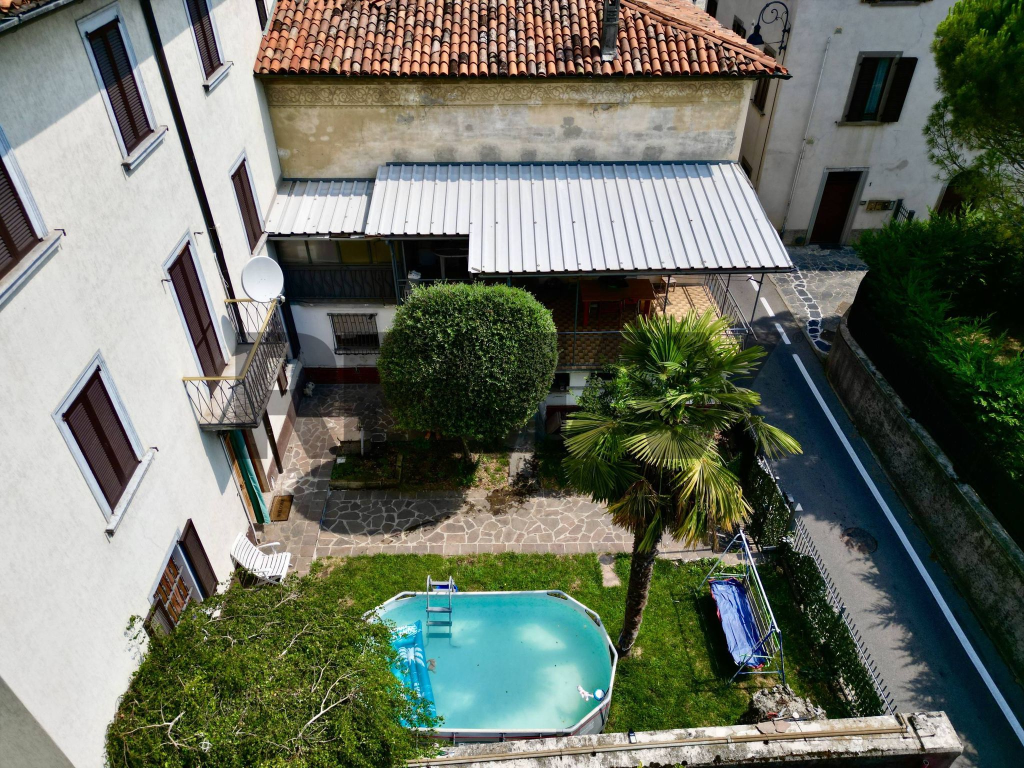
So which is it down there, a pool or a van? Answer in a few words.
pool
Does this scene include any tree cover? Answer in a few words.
Yes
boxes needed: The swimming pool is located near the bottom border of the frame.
[360,590,620,752]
